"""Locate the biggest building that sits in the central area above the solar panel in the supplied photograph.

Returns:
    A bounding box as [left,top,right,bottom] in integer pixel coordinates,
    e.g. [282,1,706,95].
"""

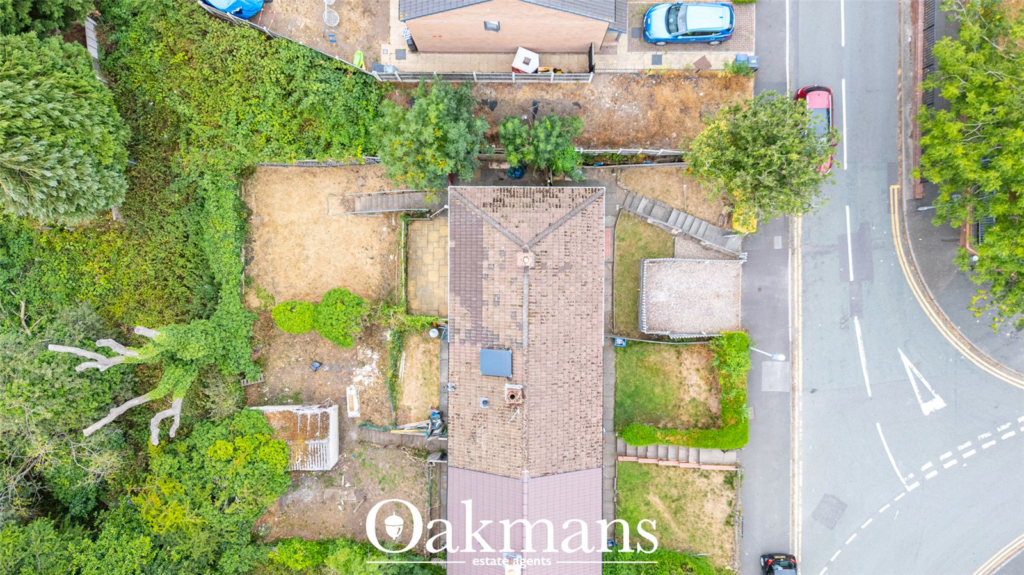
[446,185,606,350]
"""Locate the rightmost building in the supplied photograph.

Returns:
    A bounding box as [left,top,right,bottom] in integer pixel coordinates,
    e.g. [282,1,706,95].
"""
[640,258,746,341]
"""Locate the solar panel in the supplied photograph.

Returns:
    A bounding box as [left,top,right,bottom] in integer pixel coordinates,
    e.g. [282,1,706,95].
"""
[481,346,513,381]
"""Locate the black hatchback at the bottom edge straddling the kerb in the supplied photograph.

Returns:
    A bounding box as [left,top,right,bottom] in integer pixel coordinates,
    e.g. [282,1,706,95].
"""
[758,554,798,575]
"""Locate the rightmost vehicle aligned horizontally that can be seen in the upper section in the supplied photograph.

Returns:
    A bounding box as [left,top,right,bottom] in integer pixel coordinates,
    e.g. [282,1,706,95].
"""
[641,0,735,46]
